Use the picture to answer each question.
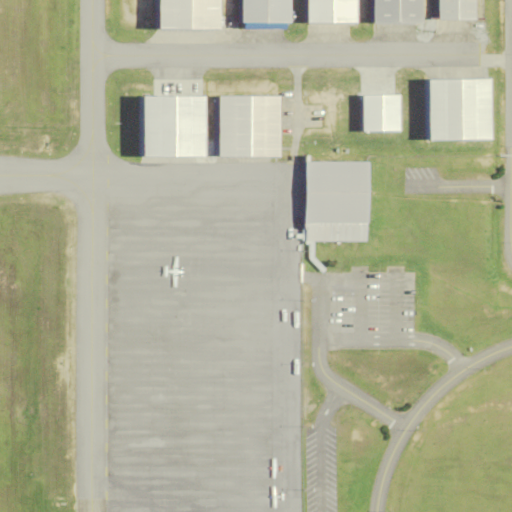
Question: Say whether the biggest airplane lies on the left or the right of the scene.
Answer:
left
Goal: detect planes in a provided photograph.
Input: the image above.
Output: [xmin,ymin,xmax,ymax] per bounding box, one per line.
[270,486,285,508]
[270,458,286,479]
[164,256,184,288]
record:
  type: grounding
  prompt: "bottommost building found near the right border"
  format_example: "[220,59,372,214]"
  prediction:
[426,80,494,140]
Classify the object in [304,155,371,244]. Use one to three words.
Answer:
building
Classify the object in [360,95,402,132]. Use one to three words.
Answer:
hangar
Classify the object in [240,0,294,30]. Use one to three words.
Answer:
hangar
